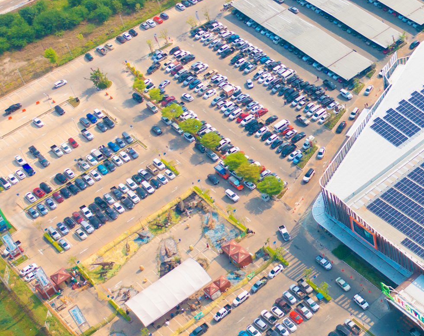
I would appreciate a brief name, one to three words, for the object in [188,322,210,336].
vehicle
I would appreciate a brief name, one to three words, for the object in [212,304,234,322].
vehicle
